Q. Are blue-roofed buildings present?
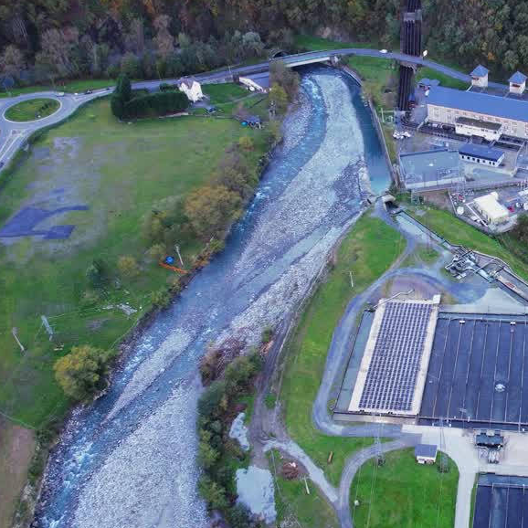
Yes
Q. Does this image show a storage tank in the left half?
No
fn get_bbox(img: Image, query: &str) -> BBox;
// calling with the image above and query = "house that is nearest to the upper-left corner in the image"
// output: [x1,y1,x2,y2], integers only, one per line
[177,73,205,99]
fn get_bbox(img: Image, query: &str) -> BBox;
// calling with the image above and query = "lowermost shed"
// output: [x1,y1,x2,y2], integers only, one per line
[414,443,440,465]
